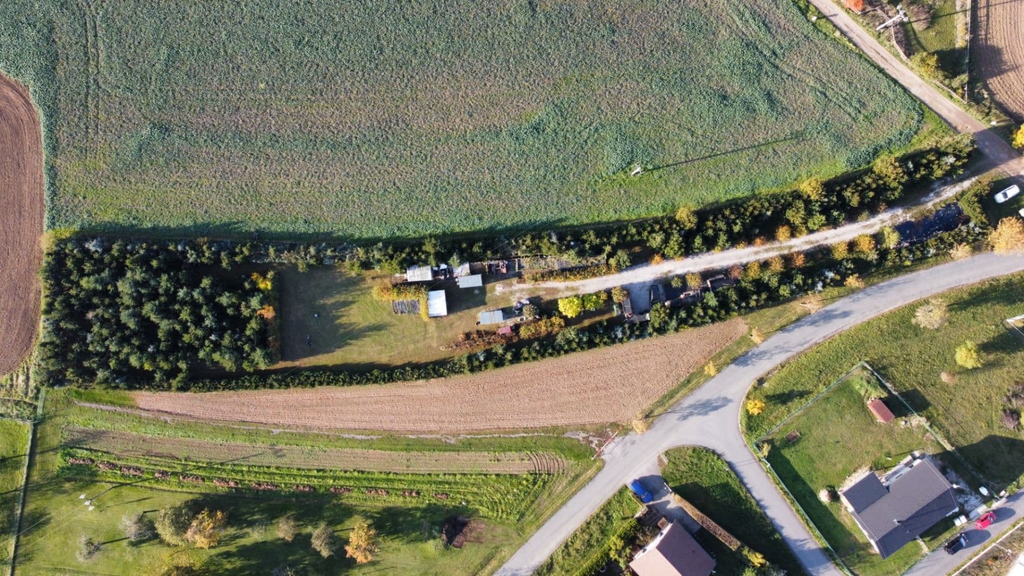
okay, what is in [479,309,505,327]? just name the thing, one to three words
shed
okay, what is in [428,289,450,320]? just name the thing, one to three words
shed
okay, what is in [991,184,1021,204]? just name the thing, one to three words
car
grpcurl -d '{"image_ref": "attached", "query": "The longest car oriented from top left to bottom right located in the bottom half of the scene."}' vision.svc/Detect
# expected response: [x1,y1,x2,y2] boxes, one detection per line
[629,479,652,502]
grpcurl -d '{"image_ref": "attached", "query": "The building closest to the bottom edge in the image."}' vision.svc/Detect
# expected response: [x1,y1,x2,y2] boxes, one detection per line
[629,518,717,576]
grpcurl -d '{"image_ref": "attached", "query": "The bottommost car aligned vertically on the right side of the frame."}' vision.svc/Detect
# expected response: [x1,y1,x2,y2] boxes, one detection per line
[647,281,661,310]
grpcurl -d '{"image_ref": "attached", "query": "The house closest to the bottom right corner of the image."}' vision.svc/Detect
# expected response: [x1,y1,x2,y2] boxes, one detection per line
[841,458,958,554]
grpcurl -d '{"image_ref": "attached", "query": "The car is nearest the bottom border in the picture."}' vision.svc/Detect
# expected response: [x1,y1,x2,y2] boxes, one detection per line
[942,533,968,554]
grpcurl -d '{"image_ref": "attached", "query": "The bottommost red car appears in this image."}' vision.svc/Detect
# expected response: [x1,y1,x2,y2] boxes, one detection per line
[973,510,997,529]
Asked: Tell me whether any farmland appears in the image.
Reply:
Yes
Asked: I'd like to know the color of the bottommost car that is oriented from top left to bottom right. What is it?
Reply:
blue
